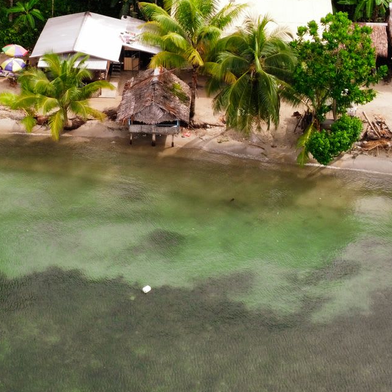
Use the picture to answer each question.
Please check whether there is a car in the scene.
No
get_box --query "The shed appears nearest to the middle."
[115,66,195,147]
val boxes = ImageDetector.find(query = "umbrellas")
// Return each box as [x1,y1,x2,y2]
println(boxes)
[1,45,28,58]
[0,58,27,73]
